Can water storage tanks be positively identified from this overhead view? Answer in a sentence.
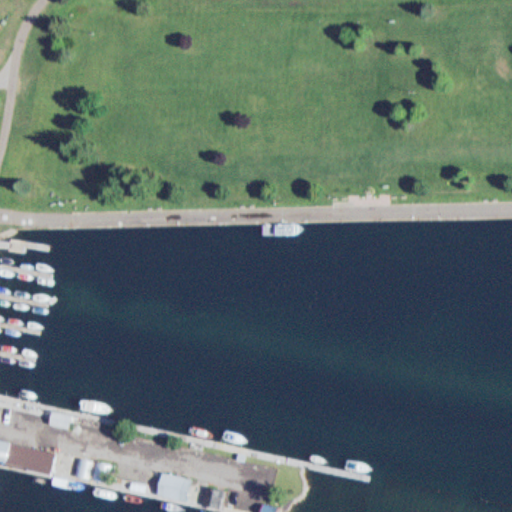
No, there appears to be no water storage tank in this shot.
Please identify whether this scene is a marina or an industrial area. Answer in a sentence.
What you see here is a marina.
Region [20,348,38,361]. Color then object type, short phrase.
white boat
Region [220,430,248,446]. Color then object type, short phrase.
white boat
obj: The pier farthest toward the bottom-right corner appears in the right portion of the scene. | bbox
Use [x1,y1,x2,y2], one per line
[304,460,372,483]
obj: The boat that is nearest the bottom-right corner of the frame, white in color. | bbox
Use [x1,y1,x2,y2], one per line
[344,460,373,474]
